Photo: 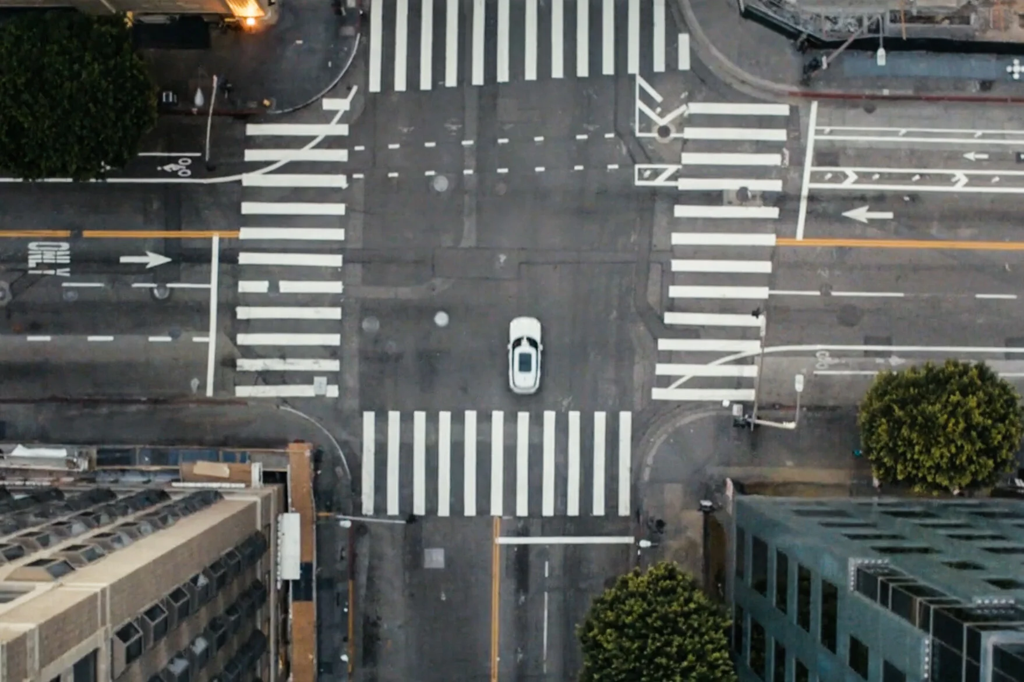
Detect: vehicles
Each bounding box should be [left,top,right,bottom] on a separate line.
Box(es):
[507,317,544,394]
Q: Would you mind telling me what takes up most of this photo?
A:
paved ground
